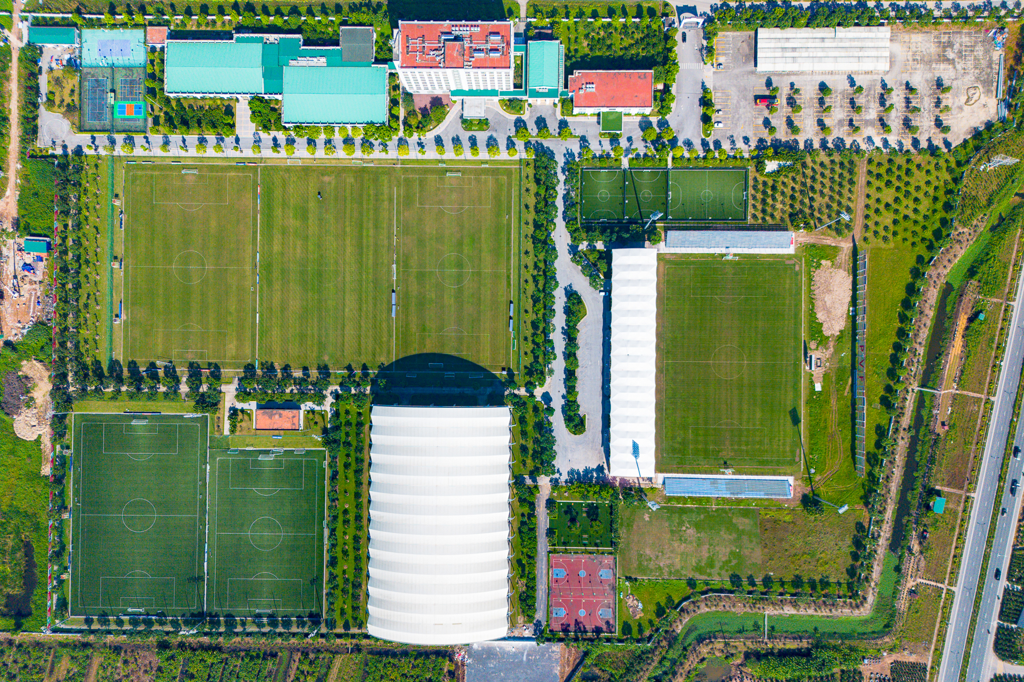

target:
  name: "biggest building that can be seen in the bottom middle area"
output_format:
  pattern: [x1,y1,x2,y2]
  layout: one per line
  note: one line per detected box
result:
[360,404,517,644]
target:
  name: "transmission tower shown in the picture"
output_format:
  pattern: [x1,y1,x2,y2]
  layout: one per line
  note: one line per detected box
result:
[984,151,1015,172]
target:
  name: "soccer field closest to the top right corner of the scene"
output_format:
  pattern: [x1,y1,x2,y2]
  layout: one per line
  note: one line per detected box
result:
[670,169,746,219]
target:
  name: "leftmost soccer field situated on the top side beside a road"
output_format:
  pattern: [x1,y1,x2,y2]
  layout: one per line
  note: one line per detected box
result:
[121,163,258,370]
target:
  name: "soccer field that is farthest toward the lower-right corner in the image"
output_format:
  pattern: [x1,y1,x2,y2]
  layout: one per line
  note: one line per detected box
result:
[657,256,802,469]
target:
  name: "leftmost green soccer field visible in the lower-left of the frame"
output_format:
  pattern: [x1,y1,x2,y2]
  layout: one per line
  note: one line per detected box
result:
[71,413,207,617]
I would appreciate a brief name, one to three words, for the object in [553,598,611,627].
basketball court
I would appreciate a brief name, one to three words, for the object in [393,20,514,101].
building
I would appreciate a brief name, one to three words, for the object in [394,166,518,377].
soccer field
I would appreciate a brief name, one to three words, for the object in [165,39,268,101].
building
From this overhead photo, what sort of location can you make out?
sports ground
